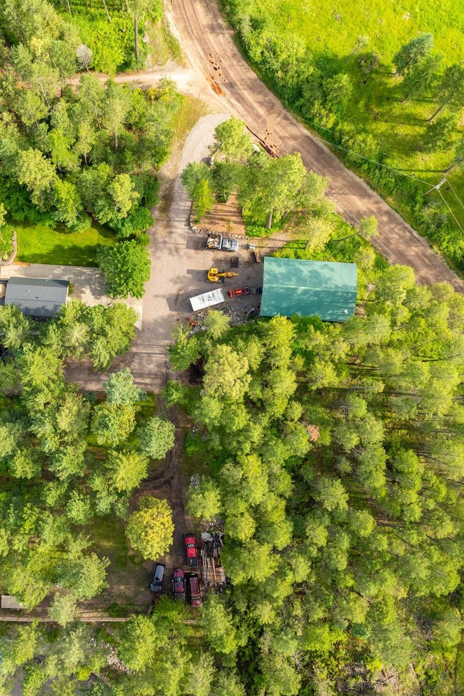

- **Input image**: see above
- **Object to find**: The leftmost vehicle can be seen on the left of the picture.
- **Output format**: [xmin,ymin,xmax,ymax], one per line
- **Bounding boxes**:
[147,562,167,593]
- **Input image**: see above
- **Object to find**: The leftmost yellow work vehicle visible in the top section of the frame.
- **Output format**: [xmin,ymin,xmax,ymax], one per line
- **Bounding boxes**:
[206,268,240,283]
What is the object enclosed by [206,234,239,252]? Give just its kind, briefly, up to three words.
vehicle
